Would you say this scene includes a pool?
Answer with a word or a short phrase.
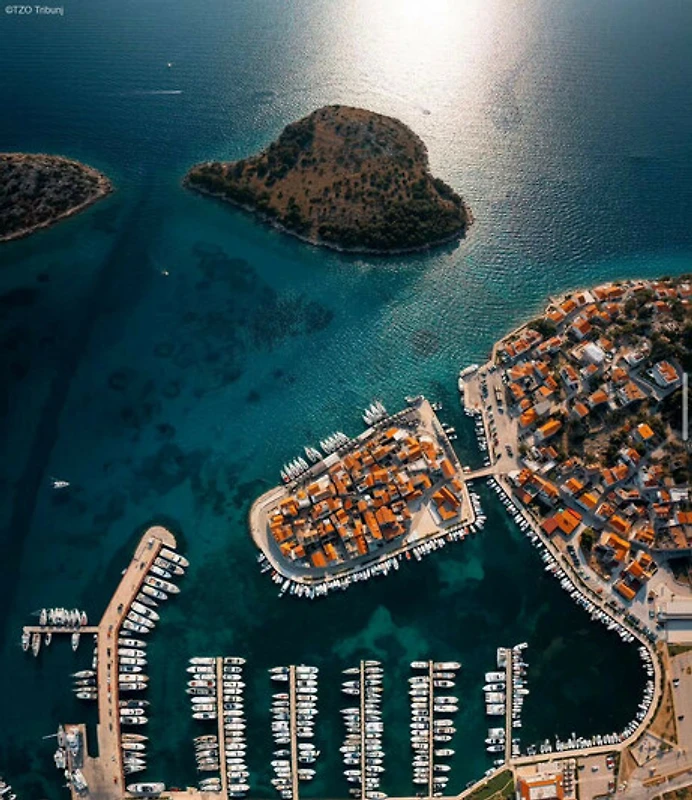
No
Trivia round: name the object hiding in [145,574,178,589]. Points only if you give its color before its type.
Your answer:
white boat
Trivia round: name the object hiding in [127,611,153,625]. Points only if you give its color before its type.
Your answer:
white boat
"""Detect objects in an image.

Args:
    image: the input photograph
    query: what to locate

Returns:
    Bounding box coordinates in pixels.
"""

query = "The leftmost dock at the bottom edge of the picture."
[65,526,222,800]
